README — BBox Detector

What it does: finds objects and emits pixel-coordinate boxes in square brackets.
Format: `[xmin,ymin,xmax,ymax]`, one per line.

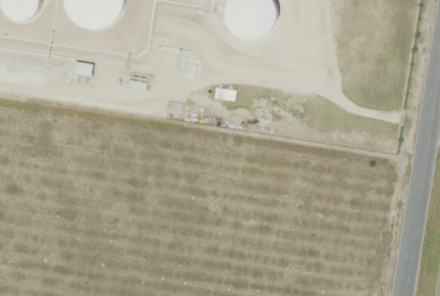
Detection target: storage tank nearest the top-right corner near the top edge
[224,0,279,42]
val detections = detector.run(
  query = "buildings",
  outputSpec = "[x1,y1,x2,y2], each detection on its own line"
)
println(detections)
[72,62,94,77]
[215,88,238,102]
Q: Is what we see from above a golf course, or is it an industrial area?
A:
industrial area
